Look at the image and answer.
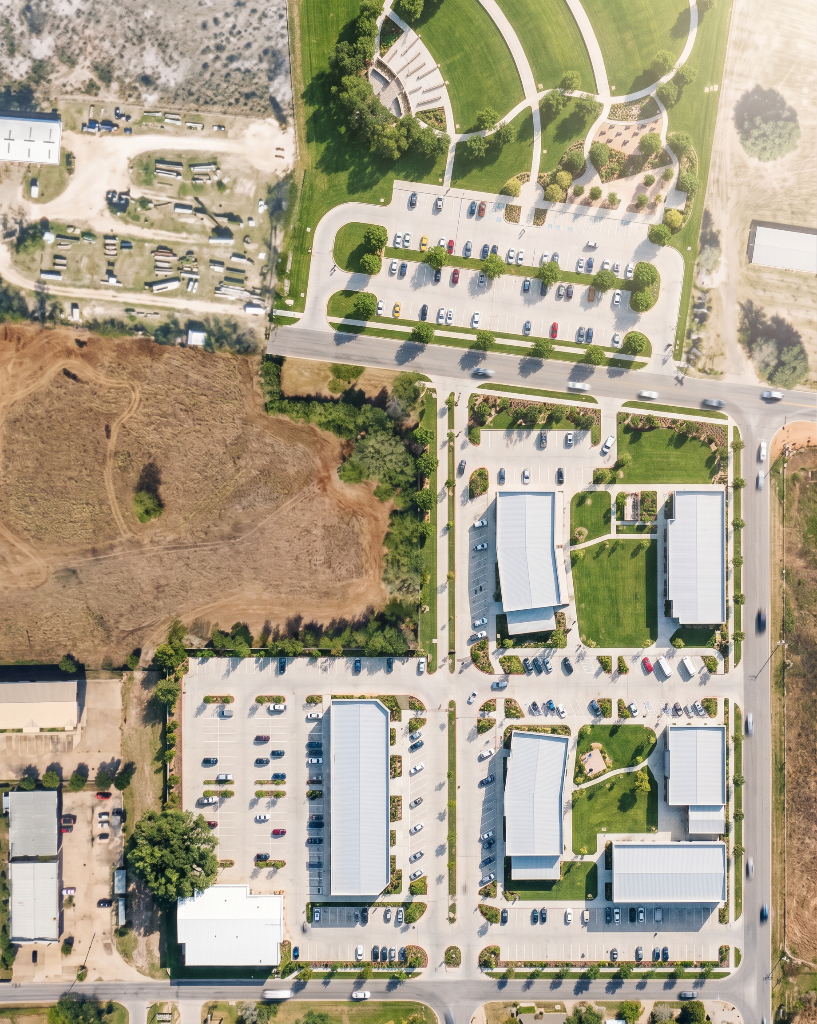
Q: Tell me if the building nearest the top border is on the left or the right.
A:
left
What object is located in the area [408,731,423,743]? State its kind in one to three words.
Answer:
vehicle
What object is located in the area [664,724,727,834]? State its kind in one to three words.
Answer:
building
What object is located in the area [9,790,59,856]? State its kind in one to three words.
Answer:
building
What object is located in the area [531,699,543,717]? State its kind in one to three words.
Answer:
vehicle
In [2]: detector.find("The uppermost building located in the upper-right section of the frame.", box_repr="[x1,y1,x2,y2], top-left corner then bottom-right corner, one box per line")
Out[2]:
[751,226,817,274]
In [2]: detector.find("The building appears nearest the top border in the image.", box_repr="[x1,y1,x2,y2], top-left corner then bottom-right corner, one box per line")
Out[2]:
[0,117,62,167]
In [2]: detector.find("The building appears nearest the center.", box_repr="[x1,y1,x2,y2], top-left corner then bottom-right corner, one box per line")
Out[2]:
[496,491,570,635]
